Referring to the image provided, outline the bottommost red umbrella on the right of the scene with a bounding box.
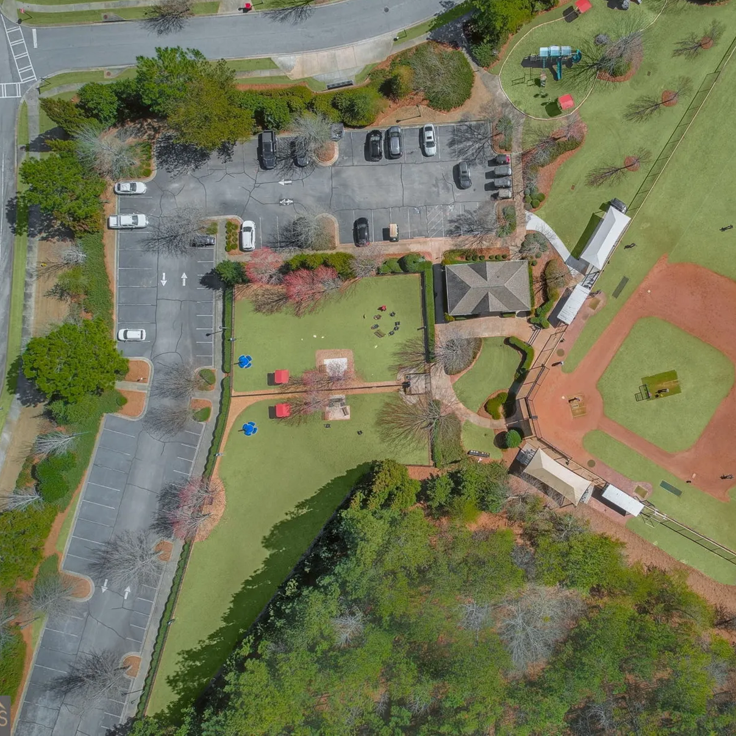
[557,92,576,112]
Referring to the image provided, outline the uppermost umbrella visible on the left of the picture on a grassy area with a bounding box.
[275,369,291,383]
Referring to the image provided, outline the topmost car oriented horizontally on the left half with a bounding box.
[116,180,148,195]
